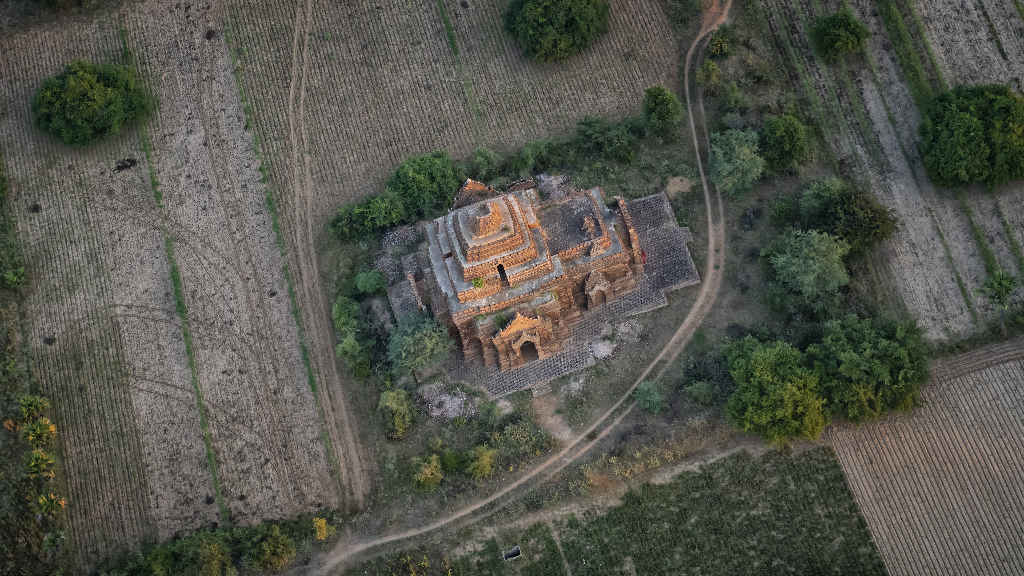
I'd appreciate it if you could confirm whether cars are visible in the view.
No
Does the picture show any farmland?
Yes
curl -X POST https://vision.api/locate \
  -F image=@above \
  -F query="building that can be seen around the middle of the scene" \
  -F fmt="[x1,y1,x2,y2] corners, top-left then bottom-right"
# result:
[407,178,647,371]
